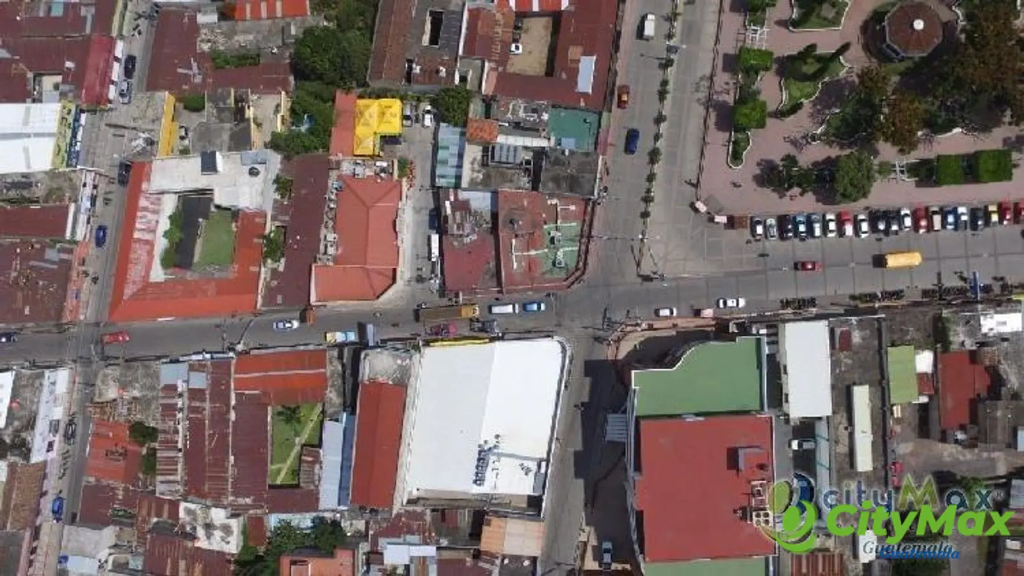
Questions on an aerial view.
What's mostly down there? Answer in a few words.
buildings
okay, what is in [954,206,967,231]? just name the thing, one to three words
vehicle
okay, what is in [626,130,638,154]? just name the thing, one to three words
vehicle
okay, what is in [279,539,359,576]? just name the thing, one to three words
house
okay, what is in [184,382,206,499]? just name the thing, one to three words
house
